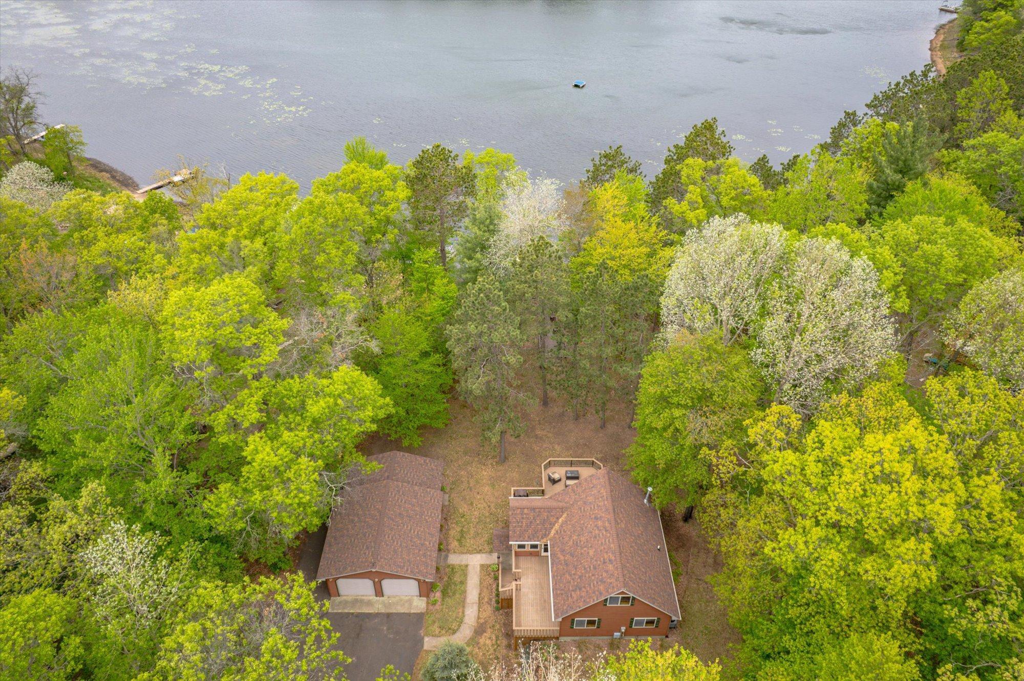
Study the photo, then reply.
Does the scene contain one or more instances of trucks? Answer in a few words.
No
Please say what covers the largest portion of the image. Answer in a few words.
trees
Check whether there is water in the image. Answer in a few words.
Yes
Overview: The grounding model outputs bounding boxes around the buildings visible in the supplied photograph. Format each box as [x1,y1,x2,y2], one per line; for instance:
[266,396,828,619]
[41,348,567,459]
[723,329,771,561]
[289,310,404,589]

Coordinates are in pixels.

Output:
[493,470,682,641]
[316,451,444,598]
